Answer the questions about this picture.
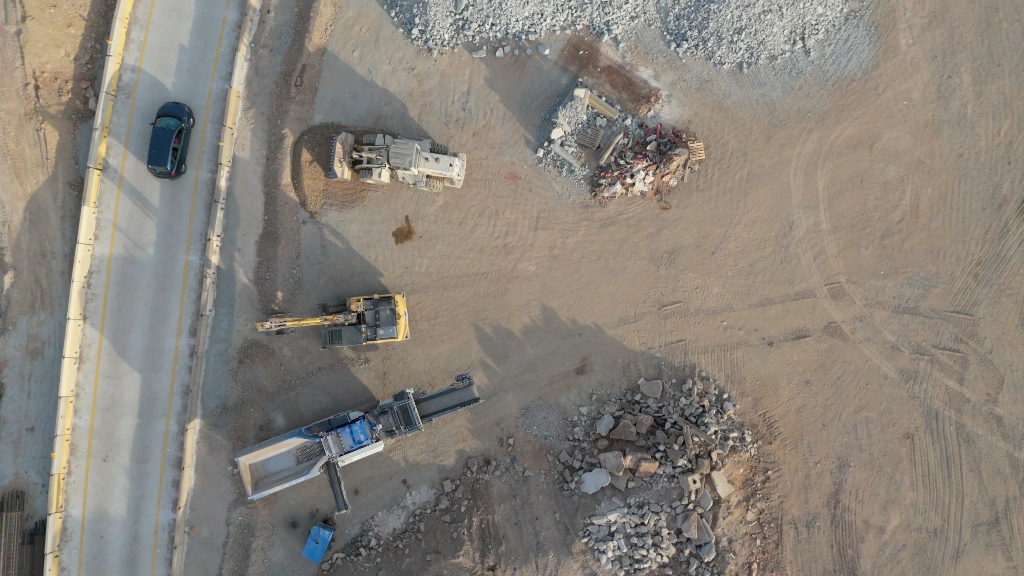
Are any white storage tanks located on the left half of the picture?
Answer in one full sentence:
No, there is no white storage tank on the left half of the picture.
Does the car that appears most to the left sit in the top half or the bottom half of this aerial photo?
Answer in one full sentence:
It is in the top half that the car that appears most to the left appears.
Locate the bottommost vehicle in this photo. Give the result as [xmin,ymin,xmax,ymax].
[252,292,411,353]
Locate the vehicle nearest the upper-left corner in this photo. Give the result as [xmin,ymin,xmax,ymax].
[150,101,198,180]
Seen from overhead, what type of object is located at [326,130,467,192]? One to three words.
work vehicle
